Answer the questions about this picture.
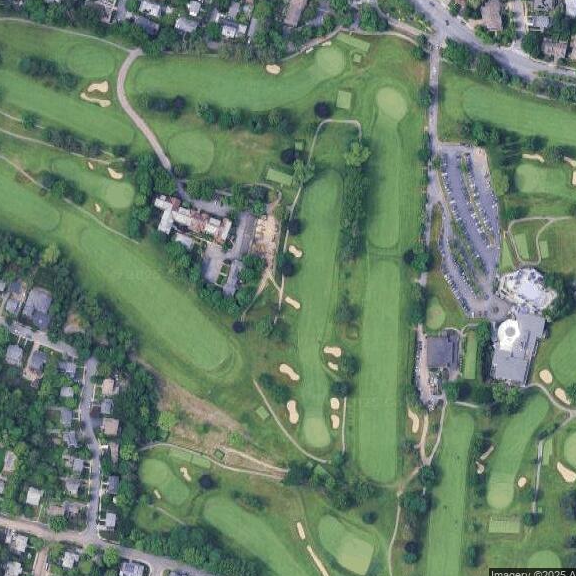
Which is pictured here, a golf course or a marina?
golf course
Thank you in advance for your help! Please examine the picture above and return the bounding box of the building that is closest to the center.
[235,214,257,254]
